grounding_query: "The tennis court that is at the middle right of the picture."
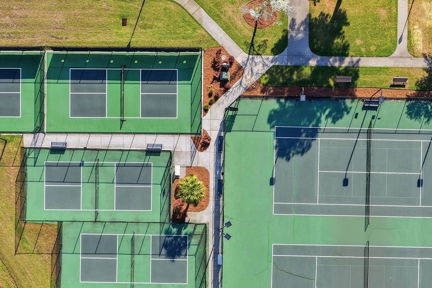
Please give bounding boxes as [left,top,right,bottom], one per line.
[221,100,432,229]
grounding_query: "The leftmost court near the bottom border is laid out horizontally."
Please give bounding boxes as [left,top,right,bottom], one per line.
[60,222,208,288]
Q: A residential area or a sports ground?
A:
sports ground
